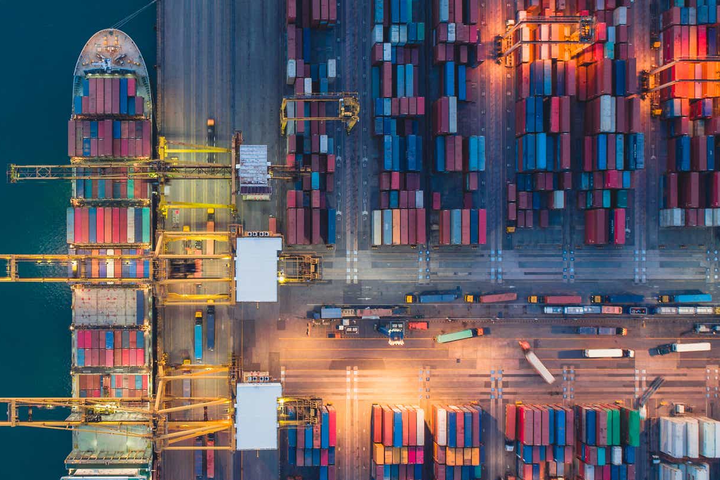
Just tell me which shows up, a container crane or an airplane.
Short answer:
container crane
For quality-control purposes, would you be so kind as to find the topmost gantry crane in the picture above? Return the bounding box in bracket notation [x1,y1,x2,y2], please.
[498,13,599,64]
